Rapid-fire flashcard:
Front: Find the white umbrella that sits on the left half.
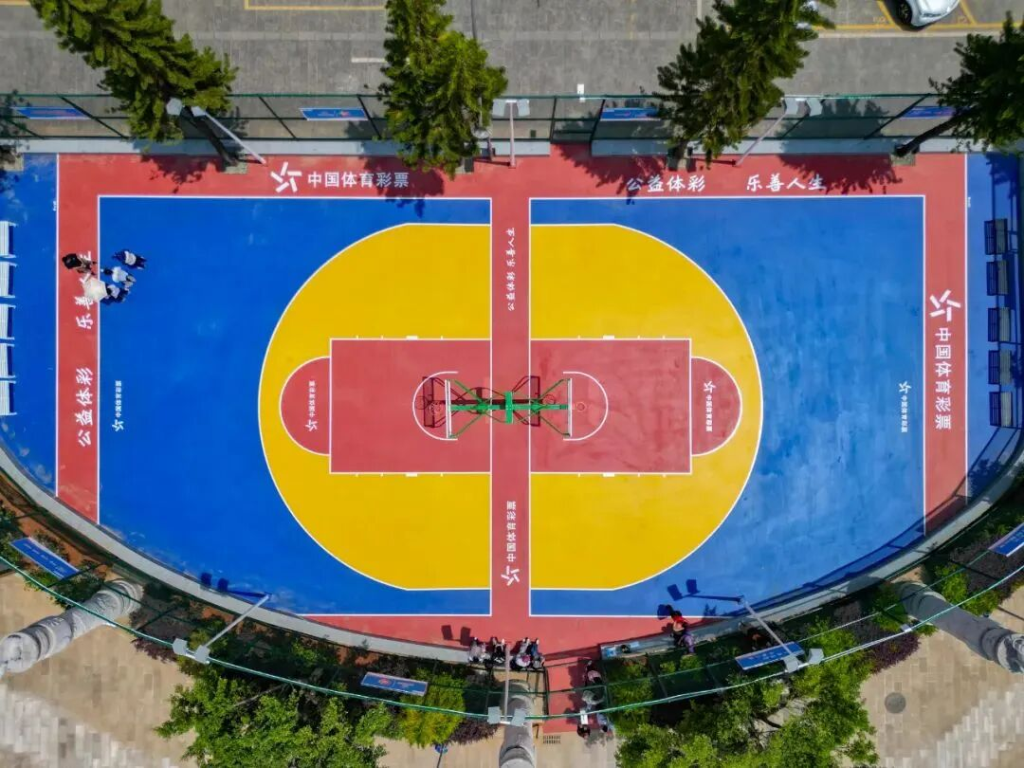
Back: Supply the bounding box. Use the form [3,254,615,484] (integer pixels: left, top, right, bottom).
[85,277,113,305]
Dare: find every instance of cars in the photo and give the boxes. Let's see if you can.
[897,0,961,27]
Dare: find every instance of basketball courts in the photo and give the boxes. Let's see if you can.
[0,142,1023,650]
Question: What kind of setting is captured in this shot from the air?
sports ground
